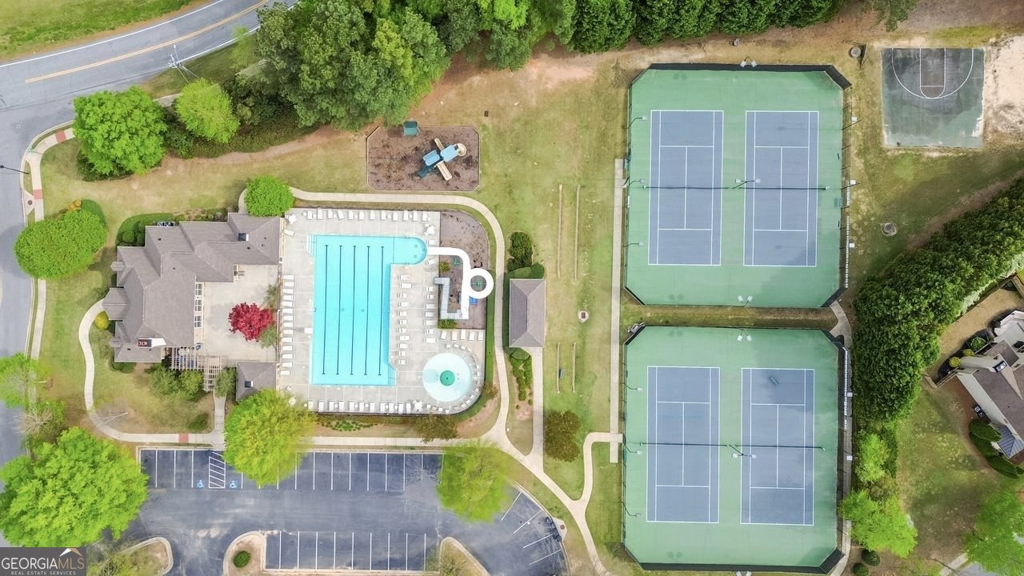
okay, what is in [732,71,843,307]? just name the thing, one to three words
tennis court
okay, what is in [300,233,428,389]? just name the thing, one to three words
swimming pool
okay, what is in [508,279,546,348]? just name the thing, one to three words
building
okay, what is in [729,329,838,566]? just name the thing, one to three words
tennis court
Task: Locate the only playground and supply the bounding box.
[417,137,467,182]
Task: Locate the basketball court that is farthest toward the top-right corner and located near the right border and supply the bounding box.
[882,48,985,148]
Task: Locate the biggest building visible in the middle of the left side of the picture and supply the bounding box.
[102,212,286,362]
